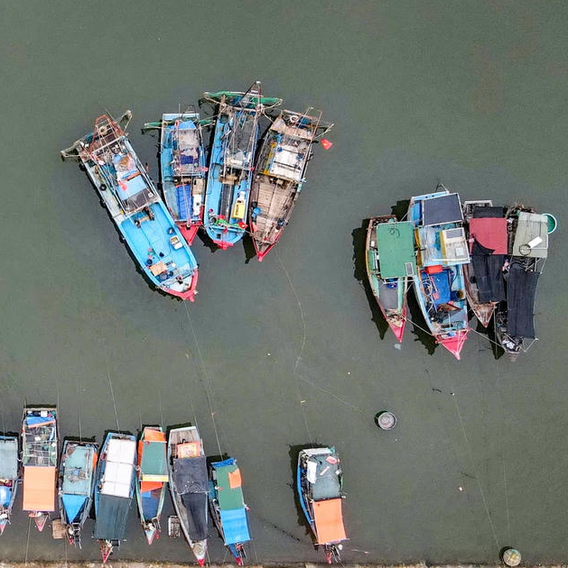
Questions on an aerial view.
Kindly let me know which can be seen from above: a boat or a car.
boat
